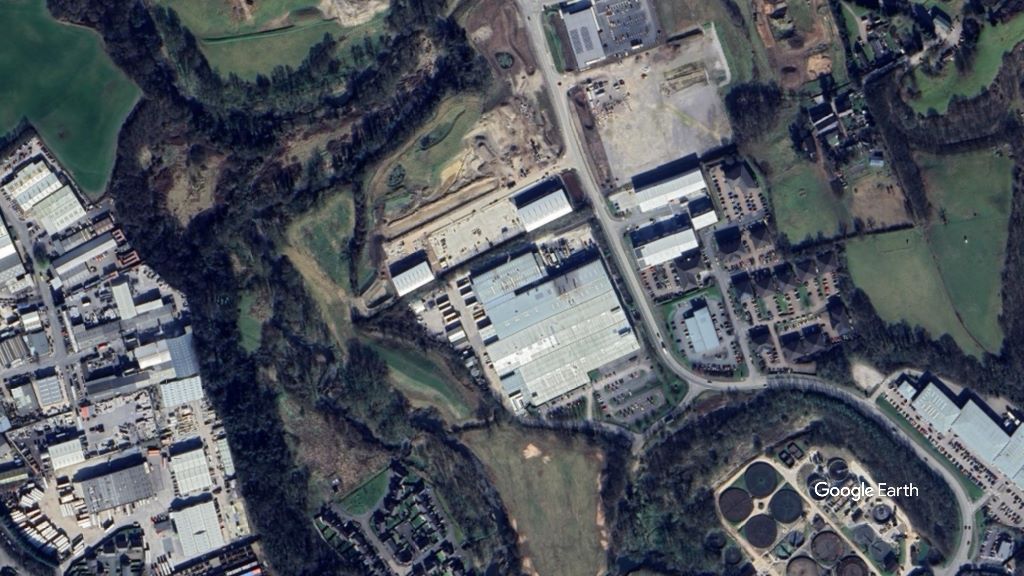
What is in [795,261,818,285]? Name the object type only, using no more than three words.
building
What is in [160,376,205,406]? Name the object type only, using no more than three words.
building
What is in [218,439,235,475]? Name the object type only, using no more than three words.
shed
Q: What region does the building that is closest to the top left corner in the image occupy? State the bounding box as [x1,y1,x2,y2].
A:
[5,160,62,212]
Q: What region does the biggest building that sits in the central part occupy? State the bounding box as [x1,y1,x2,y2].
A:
[473,252,639,417]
